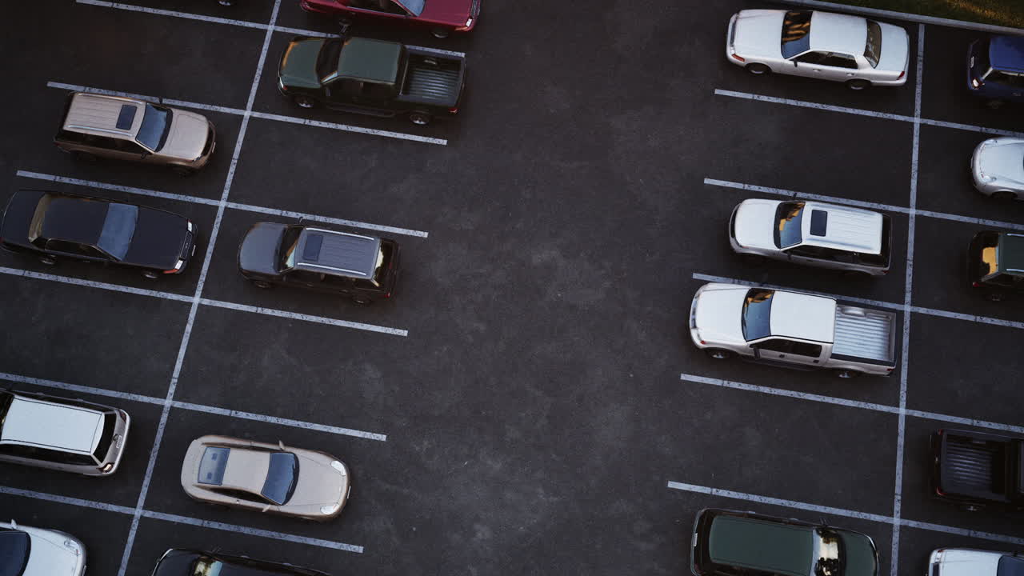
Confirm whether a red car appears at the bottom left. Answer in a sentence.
No, no red car is visible at the bottom left.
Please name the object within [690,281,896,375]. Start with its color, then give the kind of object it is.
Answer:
white truck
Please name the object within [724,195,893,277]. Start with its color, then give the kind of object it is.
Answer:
white car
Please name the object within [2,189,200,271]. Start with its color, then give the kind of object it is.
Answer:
black car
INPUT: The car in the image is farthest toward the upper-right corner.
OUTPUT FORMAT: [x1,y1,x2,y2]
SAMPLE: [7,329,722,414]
[960,33,1024,108]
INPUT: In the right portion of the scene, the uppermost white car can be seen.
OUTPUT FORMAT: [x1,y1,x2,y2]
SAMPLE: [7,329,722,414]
[726,7,909,87]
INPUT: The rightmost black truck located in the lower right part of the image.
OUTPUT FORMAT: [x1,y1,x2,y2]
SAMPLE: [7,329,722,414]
[927,431,1024,520]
